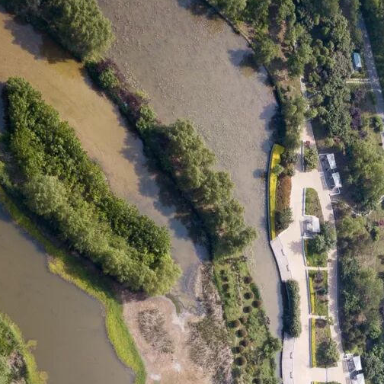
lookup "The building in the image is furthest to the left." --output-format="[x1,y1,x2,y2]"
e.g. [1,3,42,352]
[302,215,320,238]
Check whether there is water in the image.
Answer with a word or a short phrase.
Yes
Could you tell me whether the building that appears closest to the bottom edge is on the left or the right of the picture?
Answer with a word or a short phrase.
right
